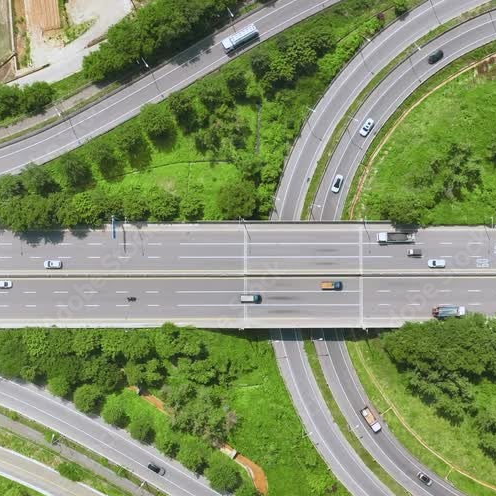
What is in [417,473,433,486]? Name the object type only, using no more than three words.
vehicle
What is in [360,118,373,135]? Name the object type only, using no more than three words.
vehicle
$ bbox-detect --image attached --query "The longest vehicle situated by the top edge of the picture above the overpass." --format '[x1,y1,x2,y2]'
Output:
[222,23,257,50]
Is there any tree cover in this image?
Yes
